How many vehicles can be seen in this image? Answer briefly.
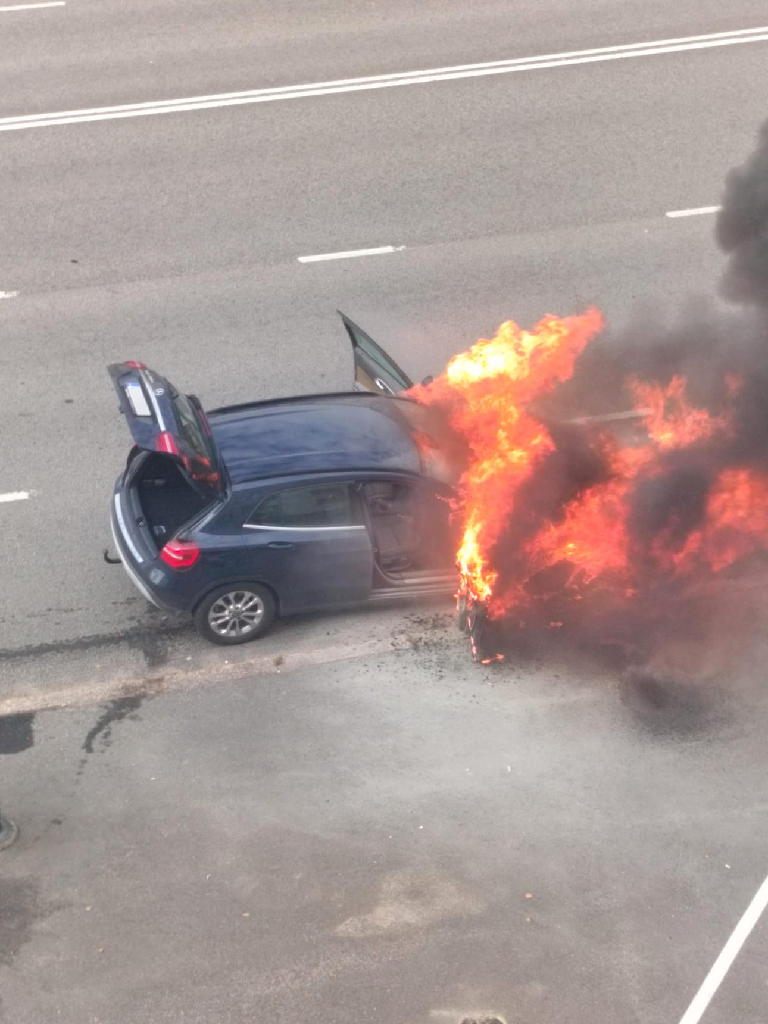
1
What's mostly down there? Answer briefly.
paved ground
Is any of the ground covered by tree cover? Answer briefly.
No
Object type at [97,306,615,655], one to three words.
car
